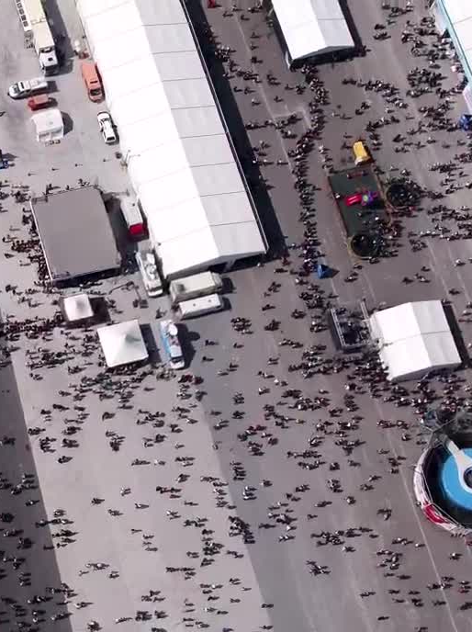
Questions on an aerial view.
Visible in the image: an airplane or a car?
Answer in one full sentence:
The image shows a car.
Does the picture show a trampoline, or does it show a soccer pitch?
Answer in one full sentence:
Of the two, only a trampoline appears.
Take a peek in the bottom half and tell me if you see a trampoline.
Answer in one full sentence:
No, no trampoline appears in the bottom half.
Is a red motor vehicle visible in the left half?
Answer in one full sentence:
Yes, looking in the left half, one can make out a red motor vehicle.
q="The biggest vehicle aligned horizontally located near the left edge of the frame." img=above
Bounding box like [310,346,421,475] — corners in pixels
[10,80,48,100]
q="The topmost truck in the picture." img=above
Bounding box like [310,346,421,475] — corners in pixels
[13,0,60,80]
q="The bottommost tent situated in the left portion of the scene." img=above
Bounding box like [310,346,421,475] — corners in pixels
[95,321,148,372]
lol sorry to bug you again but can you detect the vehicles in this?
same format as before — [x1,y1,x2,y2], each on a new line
[177,295,222,321]
[28,94,52,111]
[139,251,165,298]
[83,64,105,105]
[156,321,185,372]
[121,195,145,239]
[10,80,48,100]
[13,0,60,80]
[170,272,222,299]
[99,115,116,145]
